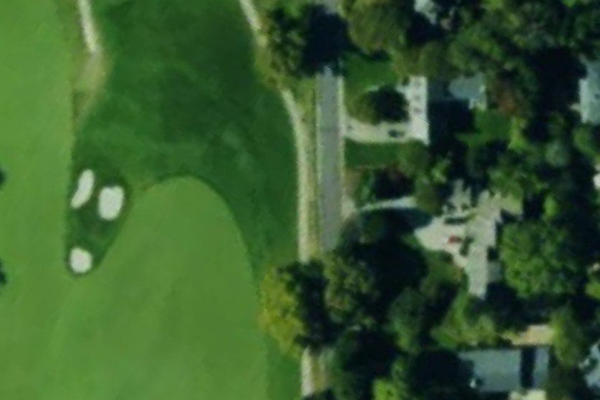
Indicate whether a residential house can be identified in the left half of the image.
No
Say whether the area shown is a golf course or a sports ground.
golf course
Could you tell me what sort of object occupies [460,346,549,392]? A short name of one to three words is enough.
house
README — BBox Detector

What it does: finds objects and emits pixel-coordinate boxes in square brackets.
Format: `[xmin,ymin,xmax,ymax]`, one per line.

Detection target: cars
[385,131,402,138]
[444,235,461,244]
